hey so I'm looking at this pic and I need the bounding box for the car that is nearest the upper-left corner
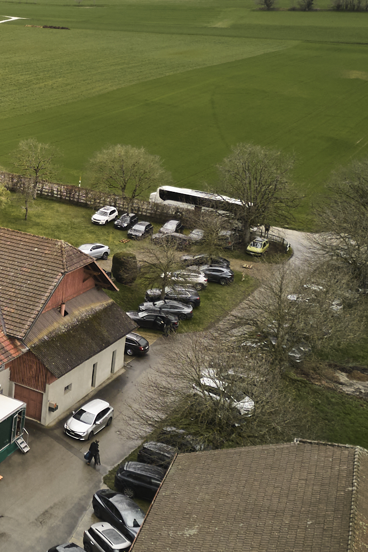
[92,205,117,227]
